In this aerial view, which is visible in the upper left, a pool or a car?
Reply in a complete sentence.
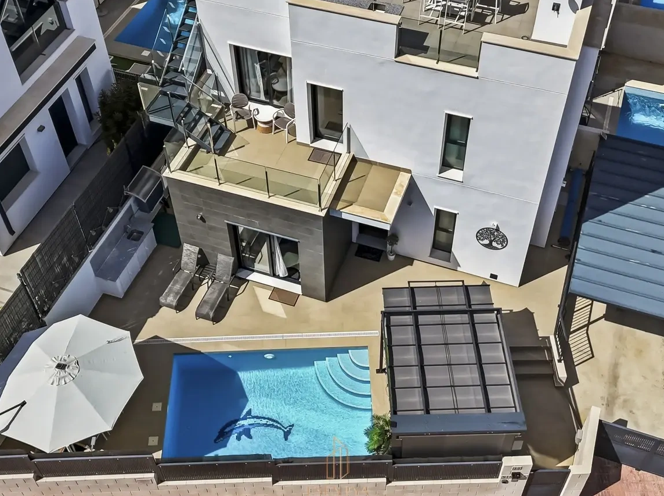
Looking in the upper left, you will find a pool.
